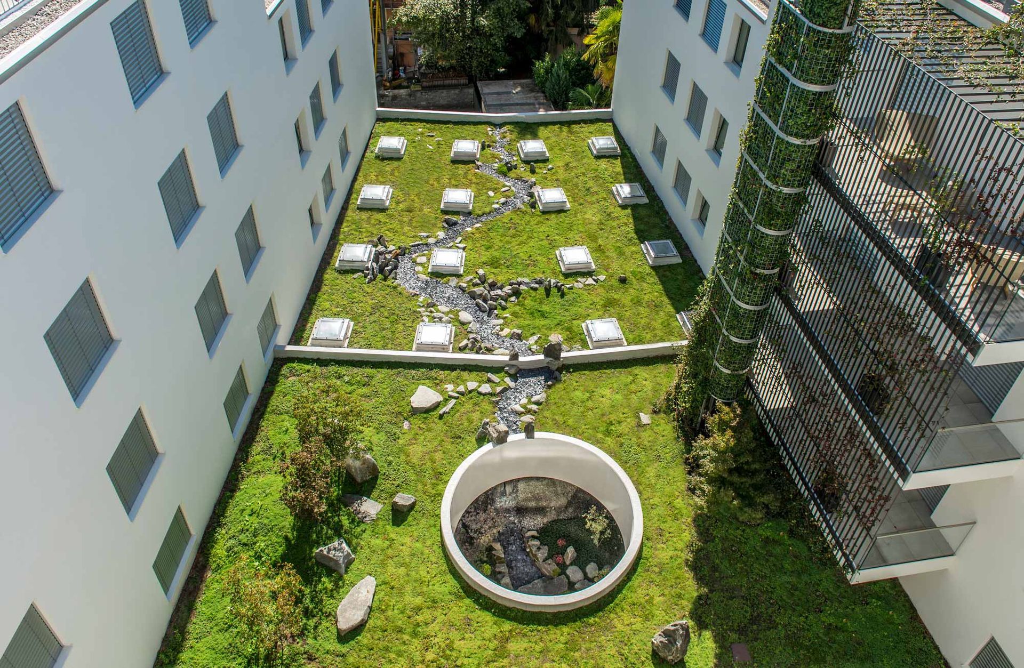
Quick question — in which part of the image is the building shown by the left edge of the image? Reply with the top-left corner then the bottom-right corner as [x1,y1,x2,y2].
[0,0,376,668]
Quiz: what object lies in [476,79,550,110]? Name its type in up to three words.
building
